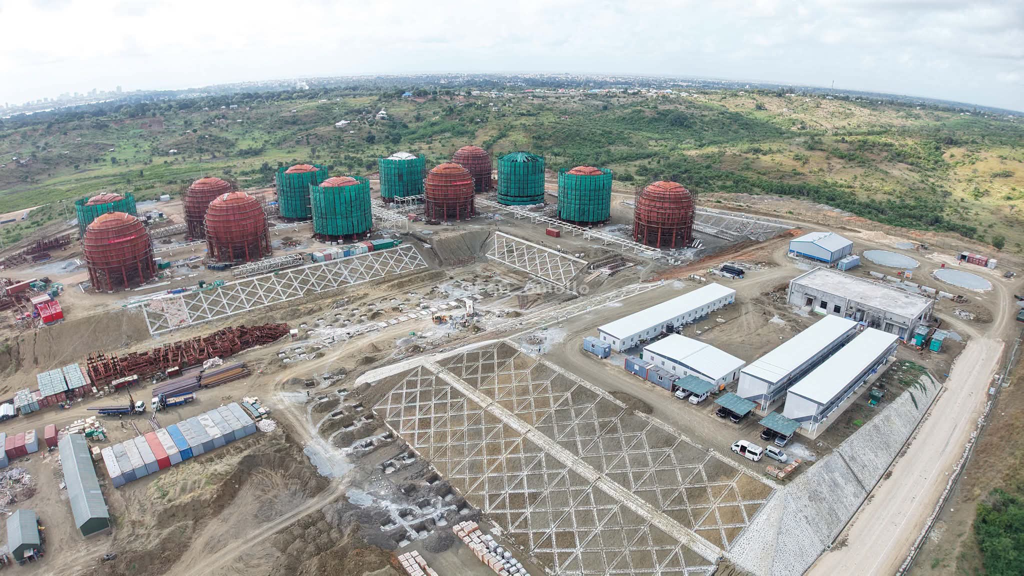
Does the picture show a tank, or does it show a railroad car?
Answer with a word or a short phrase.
tank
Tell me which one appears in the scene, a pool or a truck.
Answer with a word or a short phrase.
truck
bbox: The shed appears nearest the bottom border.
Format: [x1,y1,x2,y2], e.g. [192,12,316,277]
[7,511,45,563]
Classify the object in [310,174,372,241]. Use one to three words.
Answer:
storage tank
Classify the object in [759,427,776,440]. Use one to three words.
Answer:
vehicle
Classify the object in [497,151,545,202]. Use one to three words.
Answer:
storage tank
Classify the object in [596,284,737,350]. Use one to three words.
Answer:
building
